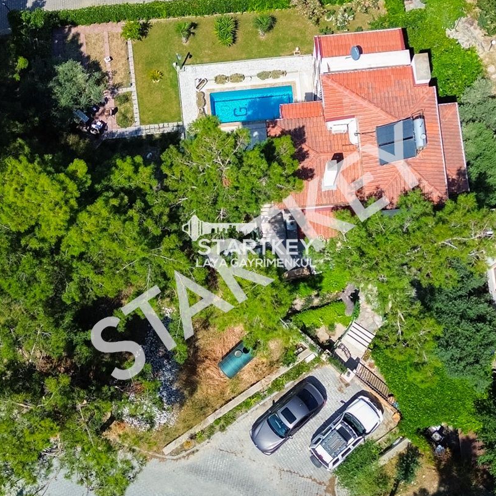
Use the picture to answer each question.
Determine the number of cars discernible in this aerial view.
2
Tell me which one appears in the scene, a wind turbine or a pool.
pool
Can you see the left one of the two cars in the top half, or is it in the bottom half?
bottom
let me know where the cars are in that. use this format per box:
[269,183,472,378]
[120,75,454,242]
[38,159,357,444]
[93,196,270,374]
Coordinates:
[308,393,387,476]
[250,373,330,457]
